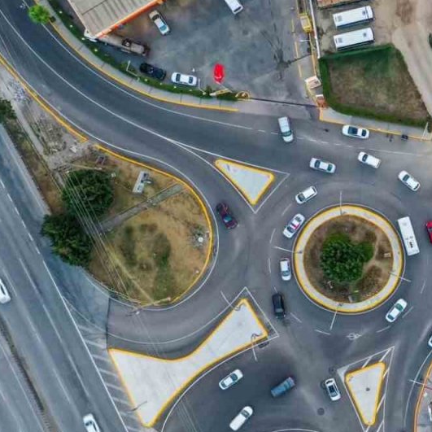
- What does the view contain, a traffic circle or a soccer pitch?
traffic circle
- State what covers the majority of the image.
paved ground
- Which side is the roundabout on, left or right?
right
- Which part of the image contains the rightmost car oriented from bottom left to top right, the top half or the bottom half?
bottom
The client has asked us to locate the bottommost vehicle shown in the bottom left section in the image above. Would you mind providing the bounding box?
[81,413,105,432]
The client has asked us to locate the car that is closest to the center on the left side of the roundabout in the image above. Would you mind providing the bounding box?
[214,200,238,230]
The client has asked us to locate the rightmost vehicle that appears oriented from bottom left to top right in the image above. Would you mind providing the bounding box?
[382,297,409,324]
